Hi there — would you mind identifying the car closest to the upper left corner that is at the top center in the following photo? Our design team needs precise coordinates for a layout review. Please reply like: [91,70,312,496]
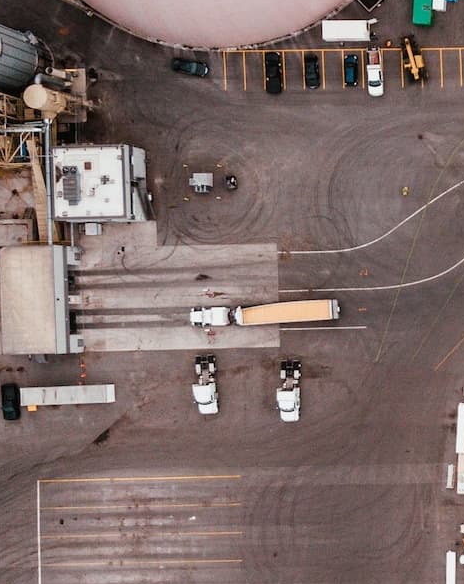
[170,55,211,77]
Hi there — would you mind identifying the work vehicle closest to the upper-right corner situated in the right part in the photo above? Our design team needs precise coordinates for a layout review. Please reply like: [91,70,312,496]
[401,35,427,78]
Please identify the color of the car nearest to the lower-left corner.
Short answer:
black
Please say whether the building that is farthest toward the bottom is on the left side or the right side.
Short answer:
left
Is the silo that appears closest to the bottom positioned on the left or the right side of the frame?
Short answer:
left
